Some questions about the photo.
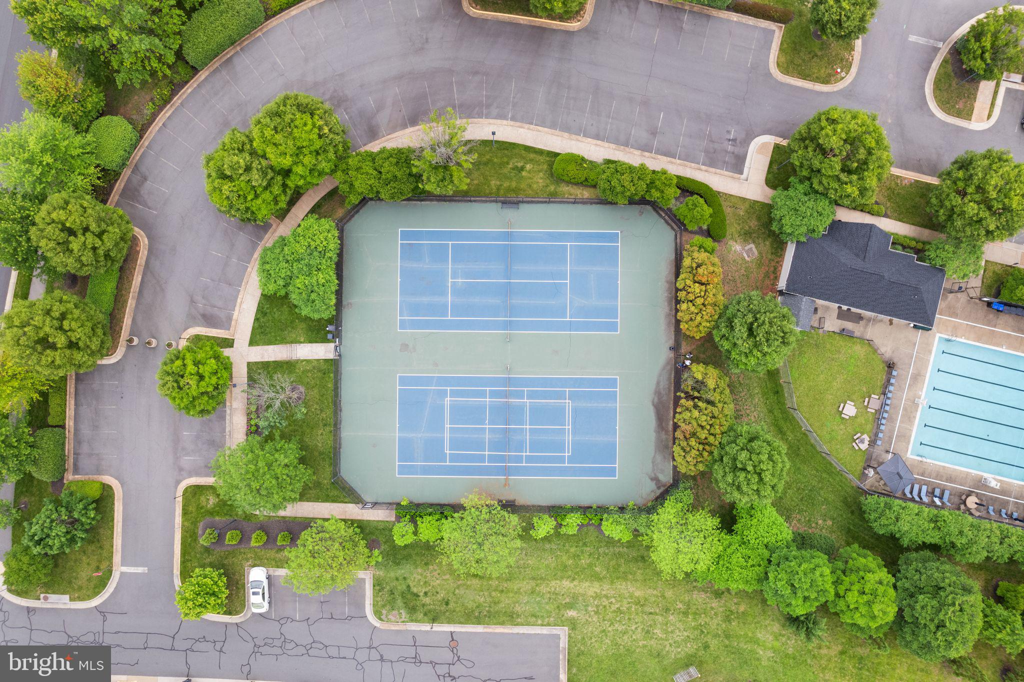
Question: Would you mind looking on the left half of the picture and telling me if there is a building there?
No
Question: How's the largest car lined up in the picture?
from top to bottom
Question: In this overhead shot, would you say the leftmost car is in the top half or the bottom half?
bottom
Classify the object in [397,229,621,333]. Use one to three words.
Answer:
tennis court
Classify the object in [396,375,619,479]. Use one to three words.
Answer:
tennis court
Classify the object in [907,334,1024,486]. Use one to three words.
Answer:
swimming pool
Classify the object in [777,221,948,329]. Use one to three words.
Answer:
building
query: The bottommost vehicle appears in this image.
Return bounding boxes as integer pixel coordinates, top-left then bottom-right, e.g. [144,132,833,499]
[247,567,270,614]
